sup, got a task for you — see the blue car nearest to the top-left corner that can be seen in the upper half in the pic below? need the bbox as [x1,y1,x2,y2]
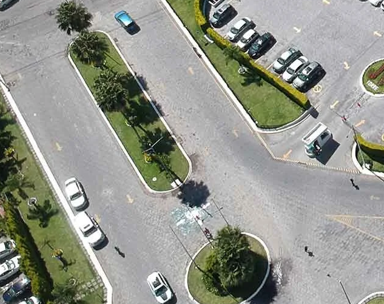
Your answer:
[116,11,136,33]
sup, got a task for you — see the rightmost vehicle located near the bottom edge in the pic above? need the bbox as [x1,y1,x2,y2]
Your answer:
[146,269,174,304]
